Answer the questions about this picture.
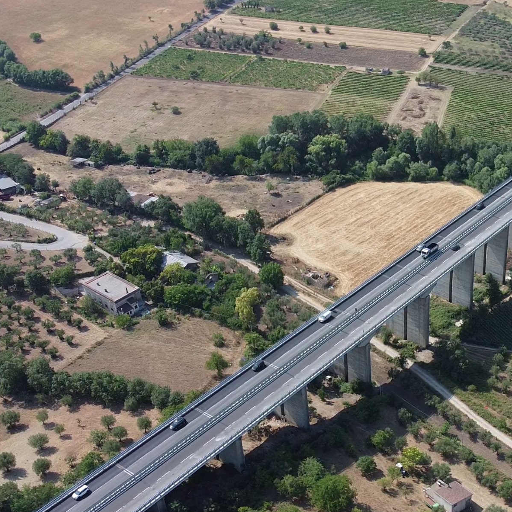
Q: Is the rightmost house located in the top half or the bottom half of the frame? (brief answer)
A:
bottom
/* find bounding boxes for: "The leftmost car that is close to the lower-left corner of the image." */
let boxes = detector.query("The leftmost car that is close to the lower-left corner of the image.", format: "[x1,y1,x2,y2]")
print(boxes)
[72,486,89,500]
